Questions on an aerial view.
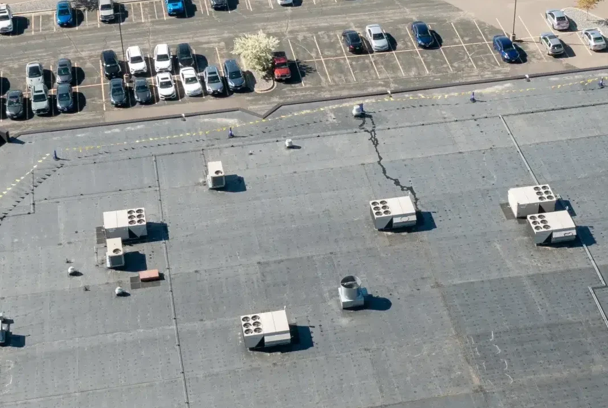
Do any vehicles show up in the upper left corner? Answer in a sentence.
Yes, you'll find a vehicle in the upper left corner.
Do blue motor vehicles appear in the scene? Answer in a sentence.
Yes, a blue motor vehicle appears in the view.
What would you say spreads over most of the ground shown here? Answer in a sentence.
Most of the picture is covered by buildings.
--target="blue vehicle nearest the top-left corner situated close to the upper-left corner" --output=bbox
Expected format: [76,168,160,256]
[56,2,73,26]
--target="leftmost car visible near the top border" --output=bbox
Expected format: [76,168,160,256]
[0,2,13,32]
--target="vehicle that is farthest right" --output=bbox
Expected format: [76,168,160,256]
[580,30,608,54]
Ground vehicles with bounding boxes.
[0,2,13,32]
[25,64,46,92]
[127,45,148,75]
[342,32,366,57]
[538,34,567,59]
[211,0,226,8]
[101,46,123,79]
[366,27,389,53]
[175,39,195,72]
[410,25,435,51]
[132,79,154,108]
[108,80,128,109]
[4,92,25,121]
[580,30,608,54]
[54,60,75,88]
[96,0,116,24]
[156,75,177,104]
[181,70,203,98]
[56,2,73,26]
[54,86,76,115]
[270,50,293,85]
[543,11,573,34]
[28,83,51,116]
[164,0,183,15]
[492,38,520,64]
[153,41,174,72]
[202,65,225,96]
[224,60,246,91]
